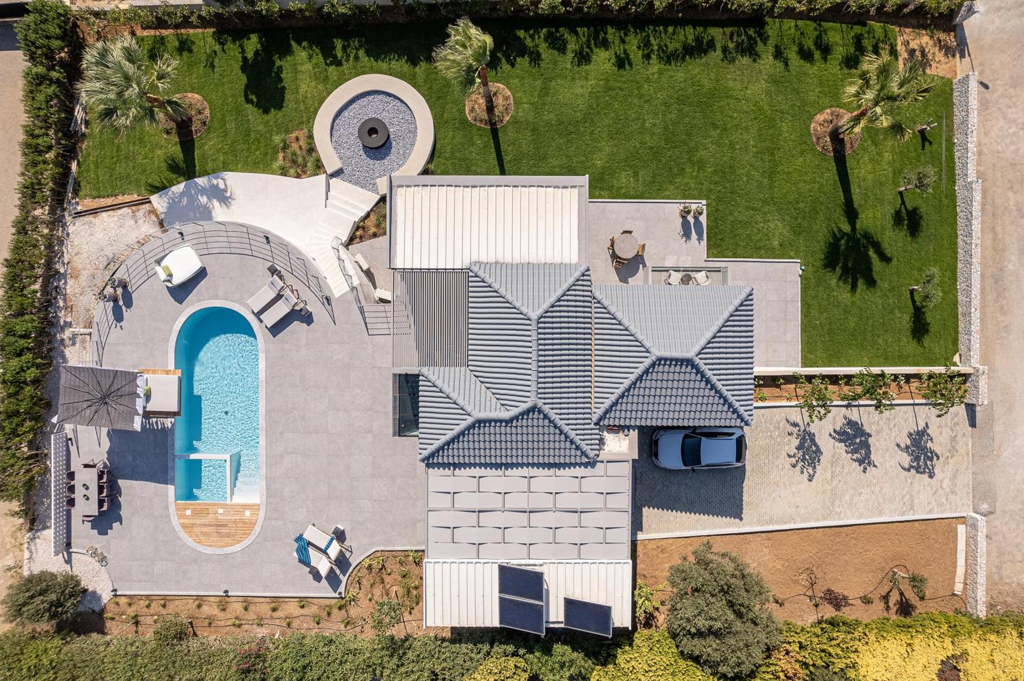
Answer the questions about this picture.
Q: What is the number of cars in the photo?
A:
one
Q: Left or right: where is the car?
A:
right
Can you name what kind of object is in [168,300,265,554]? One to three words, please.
swimming pool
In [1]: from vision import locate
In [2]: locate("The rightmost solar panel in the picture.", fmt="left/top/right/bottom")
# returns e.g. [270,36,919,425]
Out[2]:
[562,597,612,637]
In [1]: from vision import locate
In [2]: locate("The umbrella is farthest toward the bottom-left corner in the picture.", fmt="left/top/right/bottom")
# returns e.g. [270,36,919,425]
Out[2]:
[51,363,153,429]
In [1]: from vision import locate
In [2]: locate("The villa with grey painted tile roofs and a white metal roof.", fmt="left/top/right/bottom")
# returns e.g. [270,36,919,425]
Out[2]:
[388,175,757,467]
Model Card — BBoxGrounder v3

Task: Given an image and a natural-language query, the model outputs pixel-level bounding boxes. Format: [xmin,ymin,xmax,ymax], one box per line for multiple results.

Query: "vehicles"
[652,427,748,475]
